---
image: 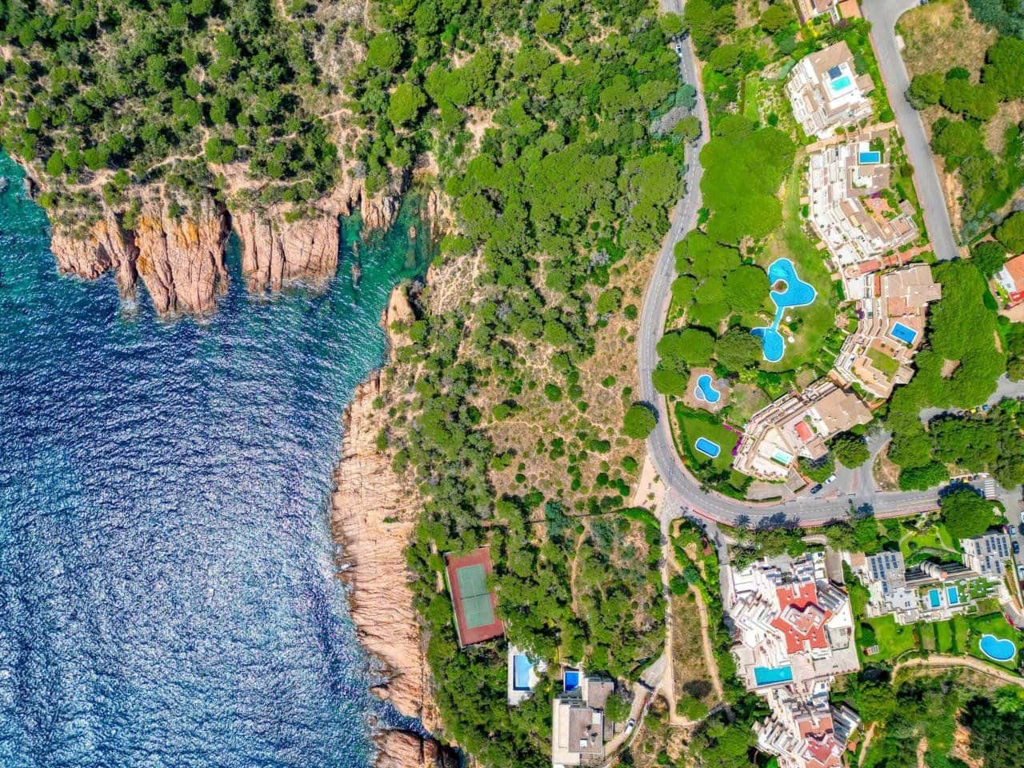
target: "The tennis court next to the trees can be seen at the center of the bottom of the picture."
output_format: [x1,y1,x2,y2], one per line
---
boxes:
[446,548,504,646]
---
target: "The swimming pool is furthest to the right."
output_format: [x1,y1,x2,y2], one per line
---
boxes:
[978,633,1016,661]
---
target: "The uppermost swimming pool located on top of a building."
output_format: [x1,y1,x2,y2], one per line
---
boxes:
[830,74,852,92]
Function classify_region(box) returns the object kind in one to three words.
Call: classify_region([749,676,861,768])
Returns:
building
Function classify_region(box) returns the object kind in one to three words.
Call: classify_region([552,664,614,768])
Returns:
house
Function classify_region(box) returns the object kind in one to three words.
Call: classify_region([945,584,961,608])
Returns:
swimming pool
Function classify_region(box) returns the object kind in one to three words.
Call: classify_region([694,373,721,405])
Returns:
swimming pool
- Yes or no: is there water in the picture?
Yes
